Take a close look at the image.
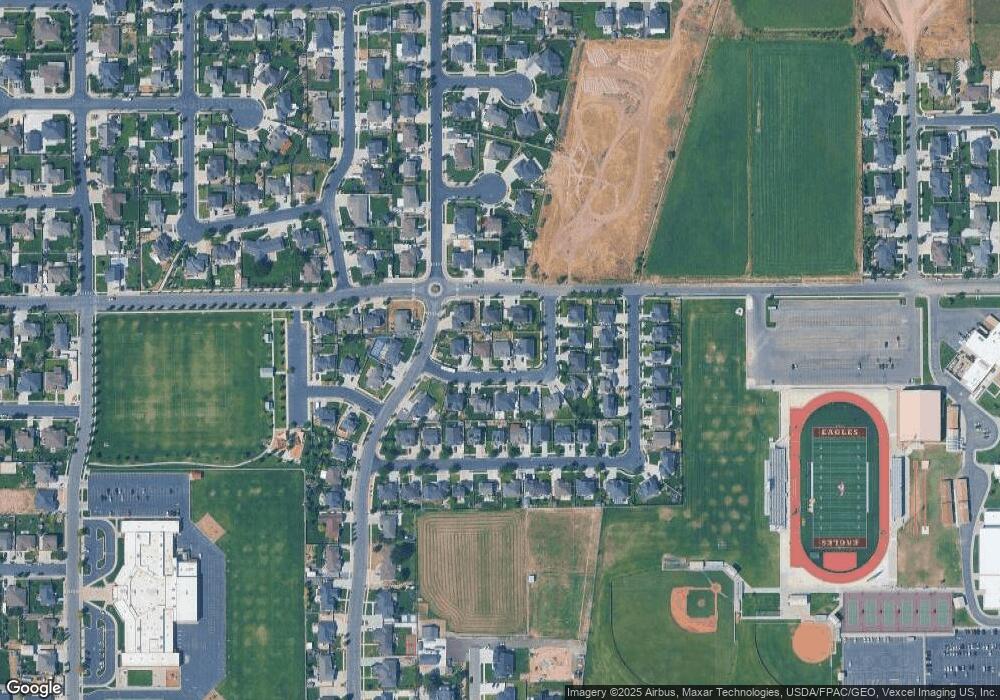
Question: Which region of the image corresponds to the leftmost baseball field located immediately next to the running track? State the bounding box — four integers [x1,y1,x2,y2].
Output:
[611,571,734,700]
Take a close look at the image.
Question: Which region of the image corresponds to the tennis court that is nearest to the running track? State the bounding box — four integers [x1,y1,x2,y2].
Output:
[844,593,952,632]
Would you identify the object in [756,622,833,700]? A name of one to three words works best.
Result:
baseball field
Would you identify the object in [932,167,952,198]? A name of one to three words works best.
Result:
house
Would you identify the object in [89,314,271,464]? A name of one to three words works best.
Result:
sports field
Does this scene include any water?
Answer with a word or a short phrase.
No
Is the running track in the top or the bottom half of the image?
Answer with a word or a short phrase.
bottom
